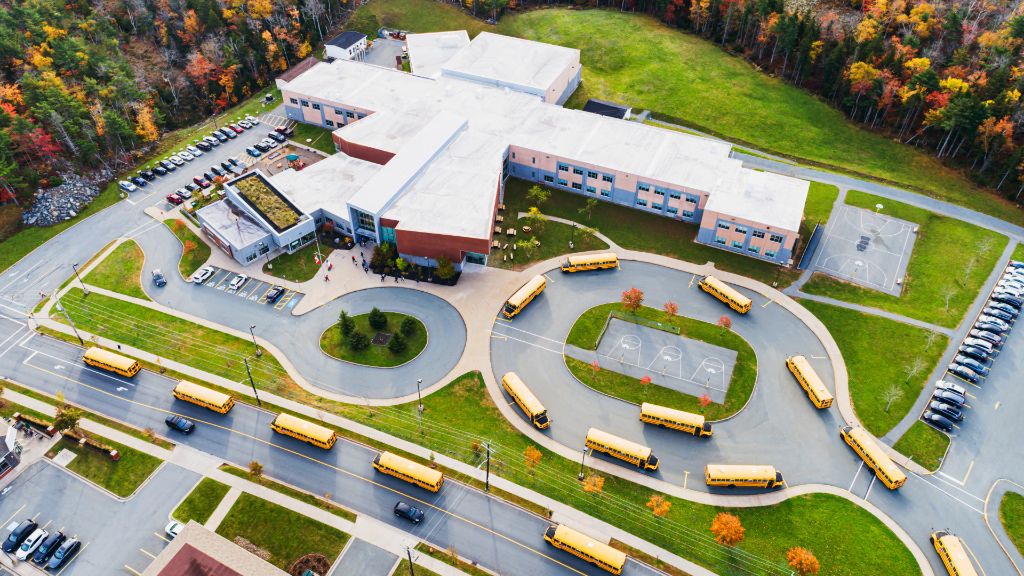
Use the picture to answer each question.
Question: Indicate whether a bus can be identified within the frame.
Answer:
Yes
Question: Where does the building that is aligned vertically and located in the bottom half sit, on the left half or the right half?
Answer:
left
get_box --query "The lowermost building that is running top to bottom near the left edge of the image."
[0,421,28,487]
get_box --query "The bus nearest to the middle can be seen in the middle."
[502,276,547,320]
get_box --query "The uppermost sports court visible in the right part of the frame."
[807,204,920,296]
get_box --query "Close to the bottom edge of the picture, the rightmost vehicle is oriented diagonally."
[926,522,976,576]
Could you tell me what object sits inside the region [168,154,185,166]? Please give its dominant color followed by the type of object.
white vehicle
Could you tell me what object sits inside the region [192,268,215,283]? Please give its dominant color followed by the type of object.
white car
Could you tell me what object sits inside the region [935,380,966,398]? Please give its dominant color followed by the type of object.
white car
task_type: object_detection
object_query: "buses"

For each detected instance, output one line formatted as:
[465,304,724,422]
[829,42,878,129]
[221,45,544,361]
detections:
[502,374,552,434]
[695,278,752,319]
[541,523,627,576]
[267,413,338,453]
[584,429,662,475]
[926,522,976,576]
[785,354,833,412]
[368,452,445,495]
[502,276,547,320]
[638,405,716,440]
[703,467,788,490]
[838,424,905,493]
[559,254,618,276]
[78,348,143,381]
[168,381,236,417]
